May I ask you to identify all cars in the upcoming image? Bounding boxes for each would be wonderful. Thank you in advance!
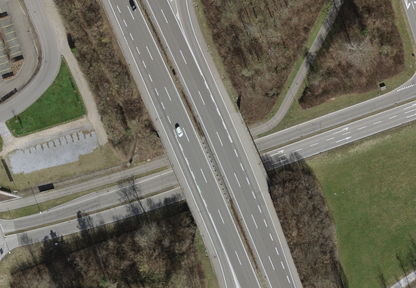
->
[176,127,183,138]
[130,0,137,10]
